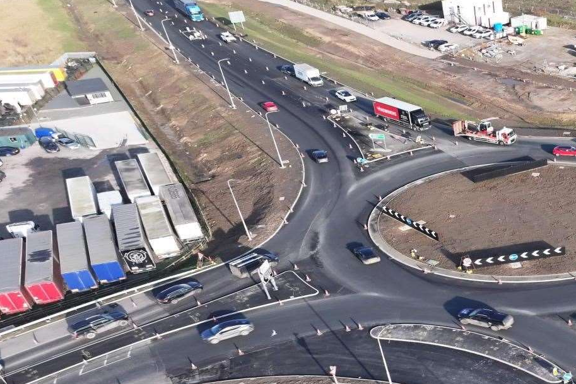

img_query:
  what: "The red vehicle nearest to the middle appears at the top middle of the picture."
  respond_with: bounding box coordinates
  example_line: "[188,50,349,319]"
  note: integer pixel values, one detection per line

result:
[259,97,277,110]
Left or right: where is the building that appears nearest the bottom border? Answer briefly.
left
